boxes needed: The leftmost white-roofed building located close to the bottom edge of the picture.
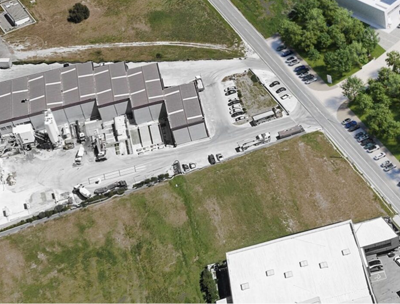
[226,221,375,304]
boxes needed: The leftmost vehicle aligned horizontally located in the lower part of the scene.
[92,177,131,195]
